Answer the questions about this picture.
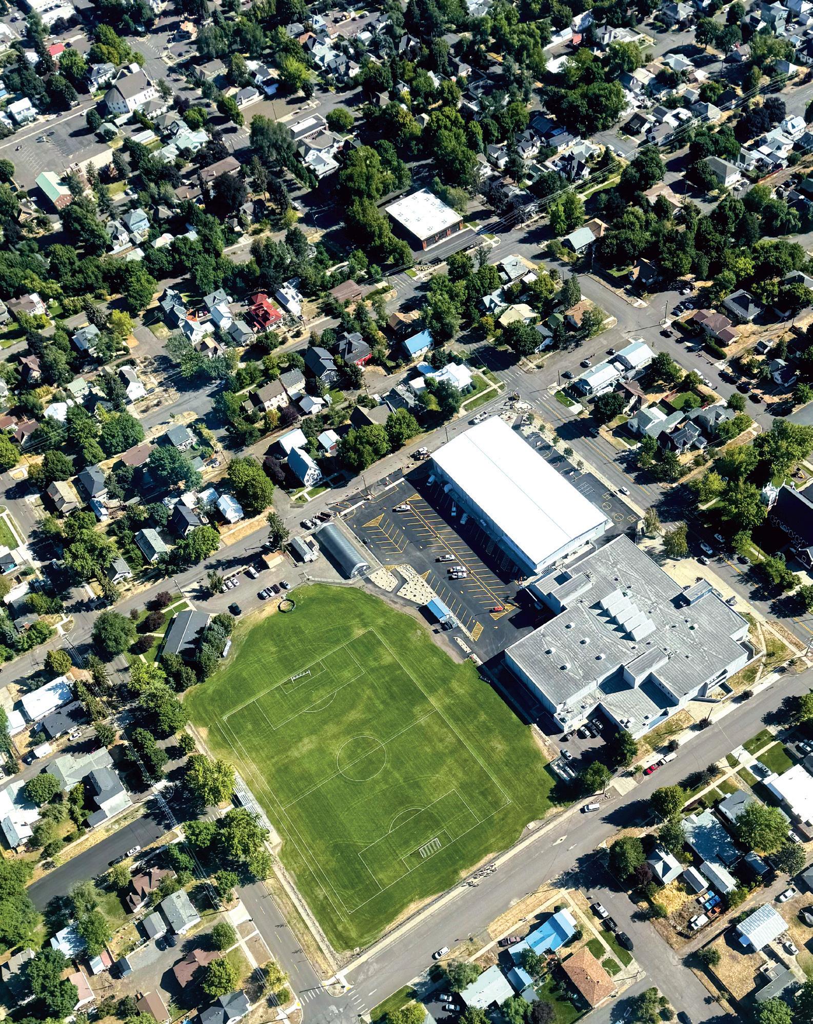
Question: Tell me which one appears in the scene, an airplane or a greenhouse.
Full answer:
Of the two, only a greenhouse appears.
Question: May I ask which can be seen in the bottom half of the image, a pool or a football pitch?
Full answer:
Looking in the bottom half of the image, you will find a football pitch.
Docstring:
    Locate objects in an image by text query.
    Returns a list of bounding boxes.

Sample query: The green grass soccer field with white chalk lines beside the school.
[182,582,562,955]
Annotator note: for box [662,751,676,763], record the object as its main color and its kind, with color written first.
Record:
white vehicle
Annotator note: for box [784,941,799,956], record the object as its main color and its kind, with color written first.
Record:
white car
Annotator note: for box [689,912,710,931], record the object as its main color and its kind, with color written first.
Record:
white vehicle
